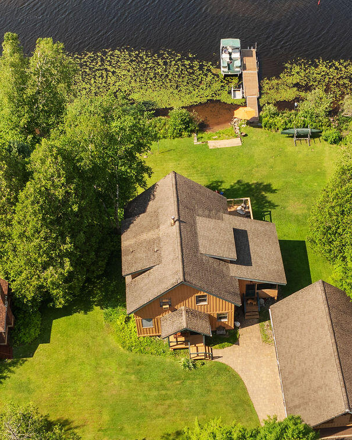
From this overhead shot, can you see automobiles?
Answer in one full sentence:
No, no automobile is visible in the scene.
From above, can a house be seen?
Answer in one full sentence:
Yes, there's a house down there.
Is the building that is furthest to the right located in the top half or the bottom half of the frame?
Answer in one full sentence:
The building that is furthest to the right is in the bottom half of the image.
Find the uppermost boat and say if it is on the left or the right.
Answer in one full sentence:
It is on the right.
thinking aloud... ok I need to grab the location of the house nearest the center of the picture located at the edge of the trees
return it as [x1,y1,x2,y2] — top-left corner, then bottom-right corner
[119,170,287,364]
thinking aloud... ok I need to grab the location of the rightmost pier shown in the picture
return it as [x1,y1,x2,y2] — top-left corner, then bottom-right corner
[241,39,261,123]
